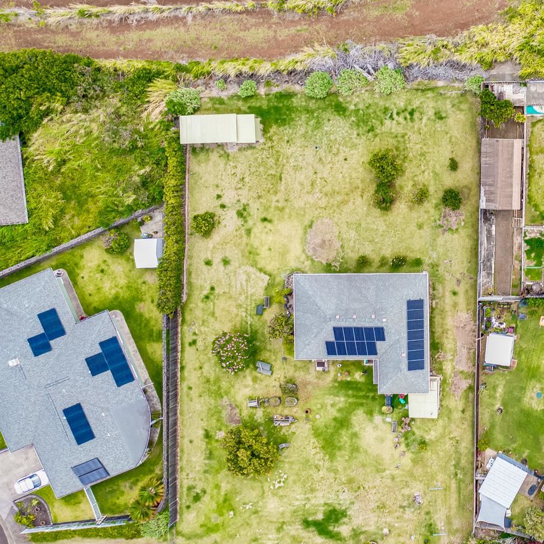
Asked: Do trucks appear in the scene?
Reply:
No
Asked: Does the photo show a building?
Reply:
Yes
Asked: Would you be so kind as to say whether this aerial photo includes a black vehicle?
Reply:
No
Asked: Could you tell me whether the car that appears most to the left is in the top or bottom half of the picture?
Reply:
bottom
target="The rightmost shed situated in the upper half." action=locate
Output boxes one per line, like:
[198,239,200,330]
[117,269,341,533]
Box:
[480,137,522,210]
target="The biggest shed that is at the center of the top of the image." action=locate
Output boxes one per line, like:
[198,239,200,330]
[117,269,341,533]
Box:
[180,113,263,147]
